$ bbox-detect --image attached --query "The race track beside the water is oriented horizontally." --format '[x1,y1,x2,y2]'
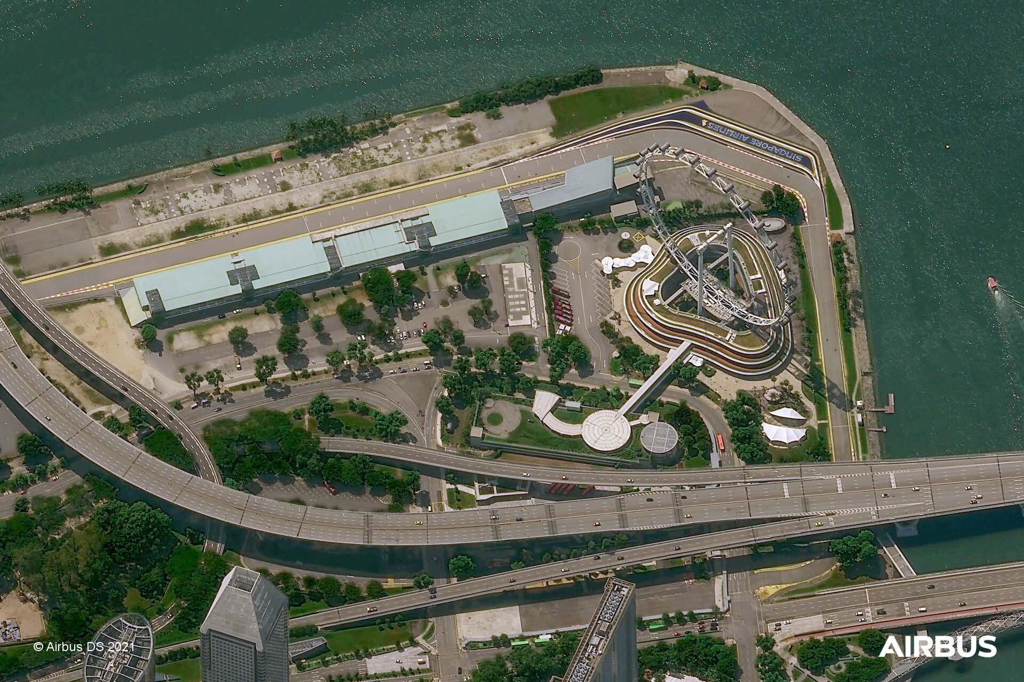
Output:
[0,100,855,462]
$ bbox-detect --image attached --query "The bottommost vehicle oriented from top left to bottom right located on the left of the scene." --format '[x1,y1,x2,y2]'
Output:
[323,482,338,498]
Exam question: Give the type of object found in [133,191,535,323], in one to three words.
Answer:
building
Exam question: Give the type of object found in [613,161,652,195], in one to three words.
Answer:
house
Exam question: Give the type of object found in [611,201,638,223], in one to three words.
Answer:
shed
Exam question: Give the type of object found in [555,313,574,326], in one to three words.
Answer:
vehicle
